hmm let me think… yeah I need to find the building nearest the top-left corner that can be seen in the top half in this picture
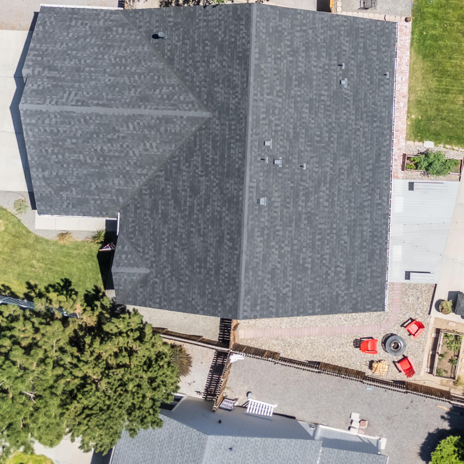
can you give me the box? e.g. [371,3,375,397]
[18,1,404,320]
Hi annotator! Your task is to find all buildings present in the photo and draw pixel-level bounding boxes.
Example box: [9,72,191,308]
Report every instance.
[18,1,404,320]
[103,390,391,464]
